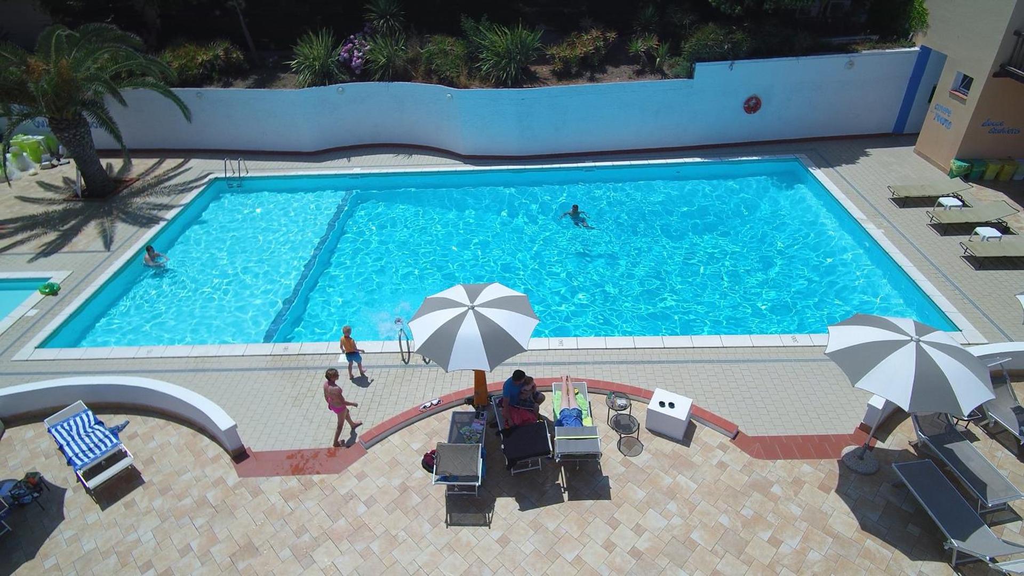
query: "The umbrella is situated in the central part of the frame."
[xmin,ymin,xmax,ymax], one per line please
[409,281,540,411]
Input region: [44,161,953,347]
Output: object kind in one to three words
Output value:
swimming pool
